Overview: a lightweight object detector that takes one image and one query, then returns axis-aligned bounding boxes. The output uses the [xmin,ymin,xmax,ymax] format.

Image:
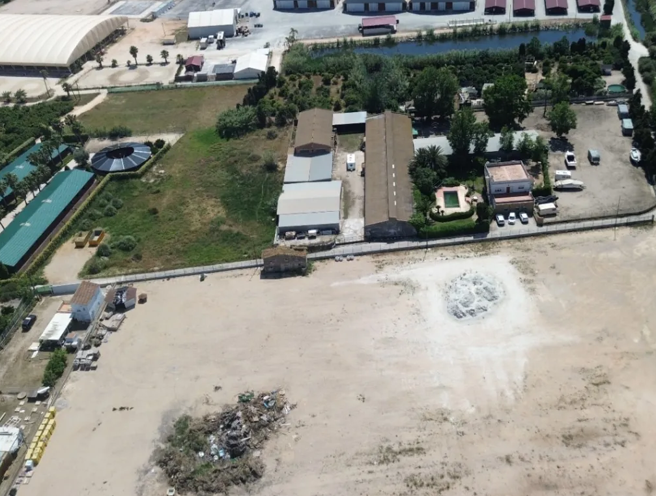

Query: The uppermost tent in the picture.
[186,12,235,38]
